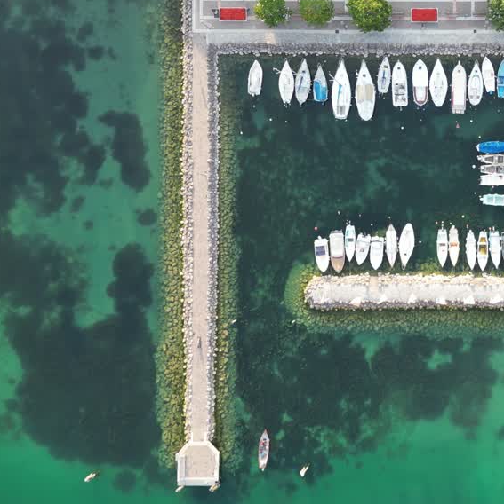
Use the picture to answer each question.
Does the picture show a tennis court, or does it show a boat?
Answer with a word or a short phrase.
boat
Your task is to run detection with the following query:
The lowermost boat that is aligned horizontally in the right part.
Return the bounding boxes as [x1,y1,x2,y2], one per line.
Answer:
[478,194,504,206]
